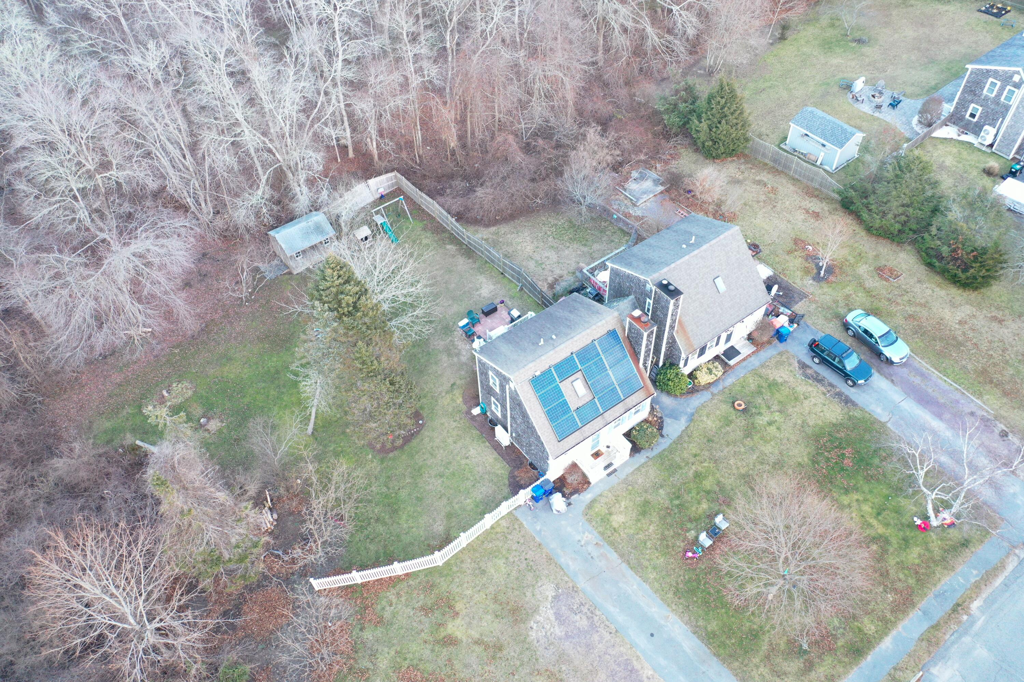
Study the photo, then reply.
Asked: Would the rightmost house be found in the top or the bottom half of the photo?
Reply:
top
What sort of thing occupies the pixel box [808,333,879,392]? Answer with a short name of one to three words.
car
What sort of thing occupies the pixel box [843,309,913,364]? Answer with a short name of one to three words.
car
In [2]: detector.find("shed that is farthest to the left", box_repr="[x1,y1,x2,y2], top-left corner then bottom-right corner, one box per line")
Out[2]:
[266,209,338,274]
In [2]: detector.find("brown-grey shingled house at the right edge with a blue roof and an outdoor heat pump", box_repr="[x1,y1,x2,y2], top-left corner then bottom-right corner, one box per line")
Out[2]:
[927,35,1024,163]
